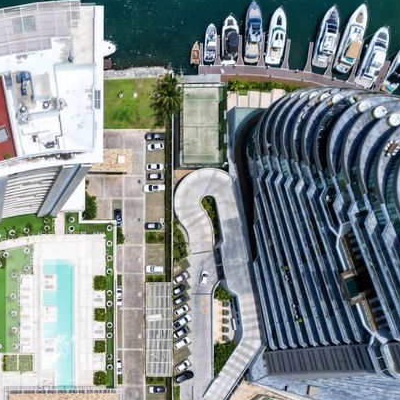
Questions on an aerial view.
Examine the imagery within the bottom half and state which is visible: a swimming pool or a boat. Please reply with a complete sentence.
There is a swimming pool within the bottom half.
